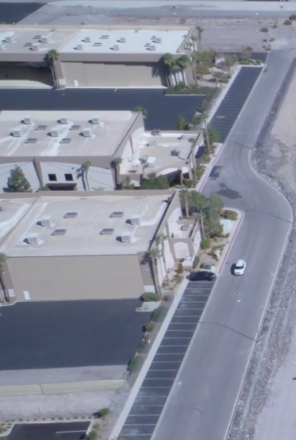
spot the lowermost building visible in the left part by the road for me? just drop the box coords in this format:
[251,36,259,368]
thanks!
[0,189,184,301]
